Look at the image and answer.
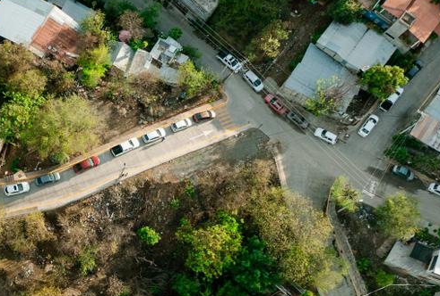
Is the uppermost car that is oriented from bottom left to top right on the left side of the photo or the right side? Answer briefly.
right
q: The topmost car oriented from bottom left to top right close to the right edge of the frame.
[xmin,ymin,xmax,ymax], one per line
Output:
[401,56,425,82]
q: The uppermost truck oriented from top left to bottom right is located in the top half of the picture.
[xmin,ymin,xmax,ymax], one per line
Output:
[214,49,242,71]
